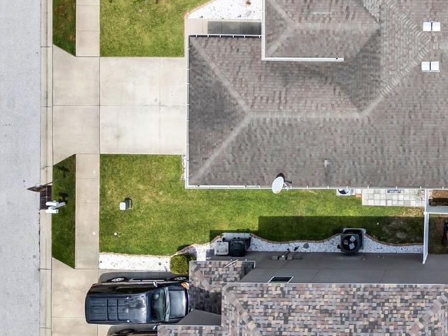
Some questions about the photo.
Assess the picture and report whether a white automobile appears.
No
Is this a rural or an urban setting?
urban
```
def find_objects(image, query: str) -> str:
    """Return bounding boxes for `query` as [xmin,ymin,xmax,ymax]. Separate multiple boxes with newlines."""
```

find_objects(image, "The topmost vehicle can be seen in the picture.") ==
[87,275,194,329]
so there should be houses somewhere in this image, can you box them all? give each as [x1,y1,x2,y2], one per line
[157,252,448,336]
[186,0,448,190]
